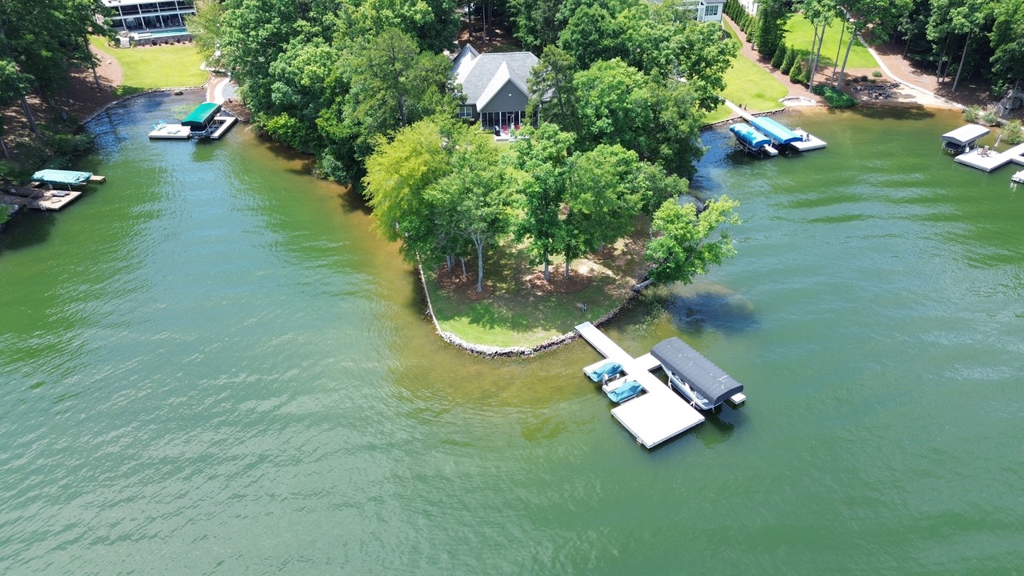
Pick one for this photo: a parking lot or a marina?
marina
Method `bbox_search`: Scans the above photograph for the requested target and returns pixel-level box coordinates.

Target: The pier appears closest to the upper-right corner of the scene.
[954,139,1024,175]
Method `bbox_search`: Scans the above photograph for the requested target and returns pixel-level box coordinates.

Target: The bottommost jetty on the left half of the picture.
[0,183,80,213]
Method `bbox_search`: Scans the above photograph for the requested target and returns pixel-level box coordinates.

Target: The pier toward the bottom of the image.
[573,321,746,451]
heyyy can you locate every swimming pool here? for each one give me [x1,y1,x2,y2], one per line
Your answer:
[135,25,202,43]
